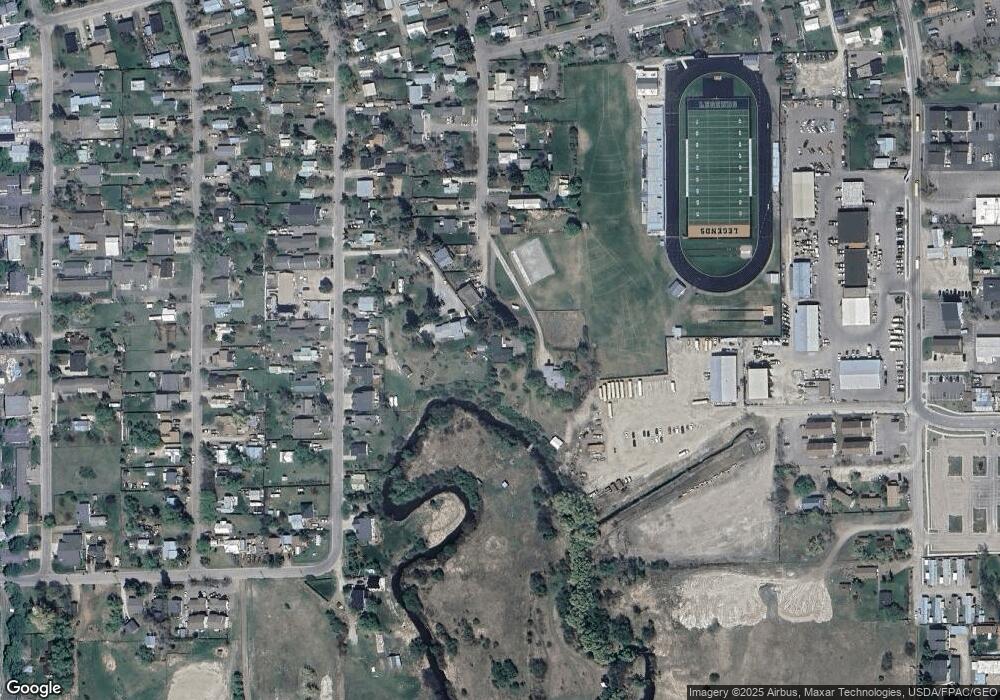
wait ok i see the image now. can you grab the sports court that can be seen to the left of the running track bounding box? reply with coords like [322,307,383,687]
[516,238,555,286]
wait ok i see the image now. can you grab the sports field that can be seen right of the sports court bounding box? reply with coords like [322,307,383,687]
[680,72,759,276]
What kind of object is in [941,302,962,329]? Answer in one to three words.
building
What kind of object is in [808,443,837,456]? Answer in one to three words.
building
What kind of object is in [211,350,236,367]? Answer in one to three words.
house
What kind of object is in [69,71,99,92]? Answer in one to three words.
house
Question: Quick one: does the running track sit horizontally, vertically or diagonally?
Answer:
vertically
